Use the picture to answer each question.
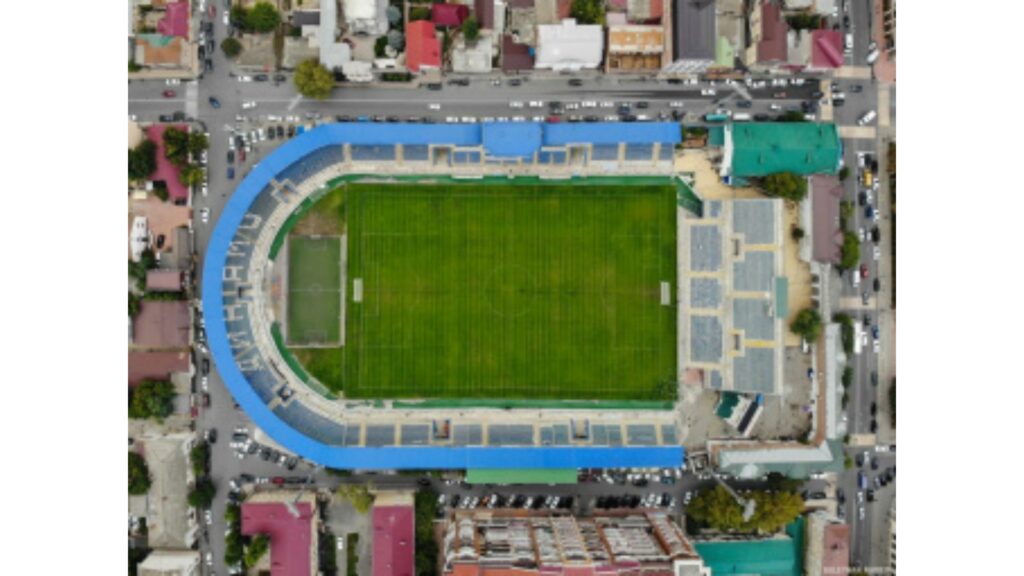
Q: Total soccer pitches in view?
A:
2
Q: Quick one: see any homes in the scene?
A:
Yes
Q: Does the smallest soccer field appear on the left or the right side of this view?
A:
left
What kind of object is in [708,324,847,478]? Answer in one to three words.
building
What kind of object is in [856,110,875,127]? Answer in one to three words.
vehicle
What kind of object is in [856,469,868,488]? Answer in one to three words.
vehicle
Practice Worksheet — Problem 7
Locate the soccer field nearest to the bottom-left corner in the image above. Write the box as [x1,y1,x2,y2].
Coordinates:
[283,234,343,348]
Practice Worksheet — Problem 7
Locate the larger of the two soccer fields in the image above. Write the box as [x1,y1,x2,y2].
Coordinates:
[345,184,676,401]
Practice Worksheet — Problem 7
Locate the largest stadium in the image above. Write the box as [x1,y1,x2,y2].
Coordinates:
[203,122,683,484]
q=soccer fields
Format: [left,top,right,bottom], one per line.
[345,184,676,401]
[283,234,343,348]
